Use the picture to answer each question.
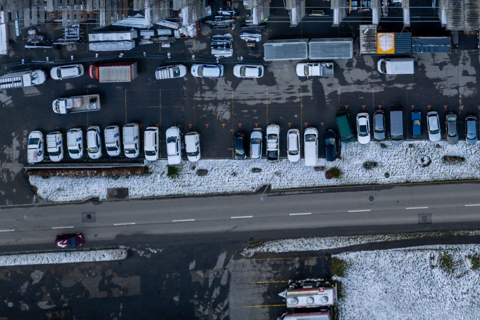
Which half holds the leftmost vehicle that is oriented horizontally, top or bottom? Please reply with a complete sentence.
Seen from above, the leftmost vehicle that is oriented horizontally lies in the top half of the view.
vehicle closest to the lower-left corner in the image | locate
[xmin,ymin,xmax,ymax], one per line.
[54,232,85,249]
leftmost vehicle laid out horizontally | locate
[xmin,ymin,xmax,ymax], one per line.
[0,69,45,90]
